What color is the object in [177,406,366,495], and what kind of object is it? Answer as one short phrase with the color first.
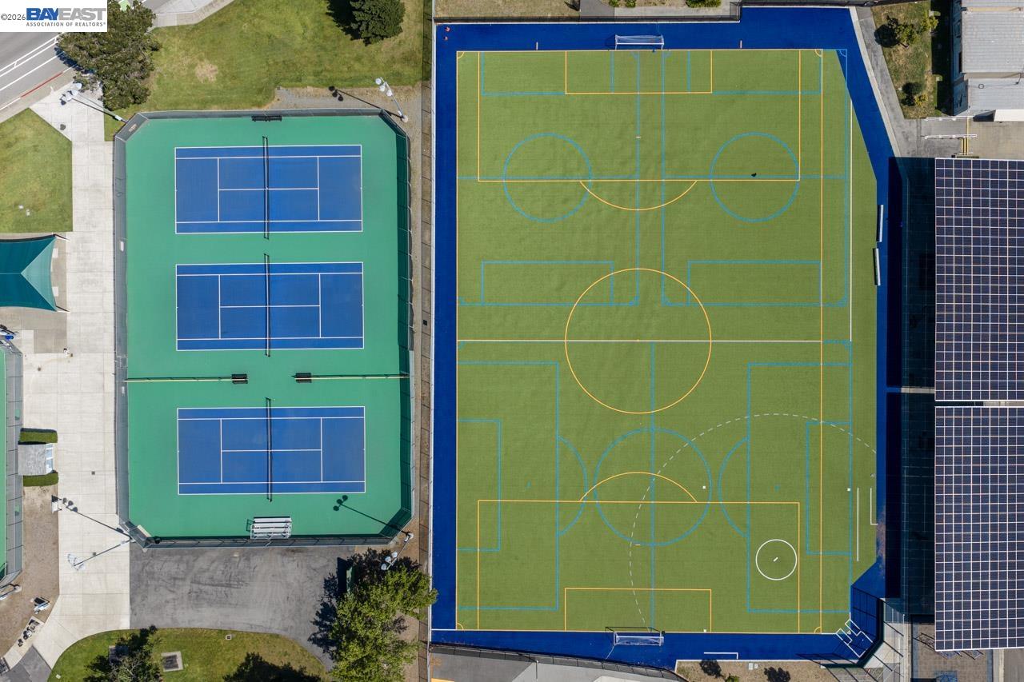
blue tennis court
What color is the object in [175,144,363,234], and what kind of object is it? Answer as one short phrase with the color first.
blue tennis court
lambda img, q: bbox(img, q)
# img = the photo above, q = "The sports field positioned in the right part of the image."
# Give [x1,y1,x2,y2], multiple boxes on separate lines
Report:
[433,7,901,671]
